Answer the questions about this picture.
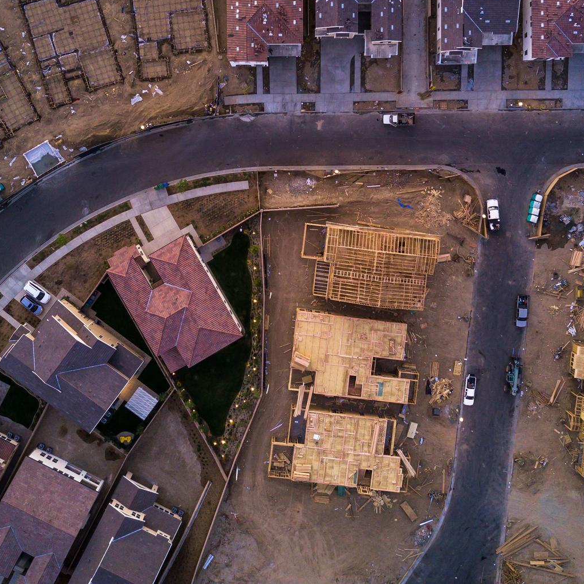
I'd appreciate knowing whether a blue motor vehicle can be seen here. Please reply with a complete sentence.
Yes, the photo shows a blue motor vehicle.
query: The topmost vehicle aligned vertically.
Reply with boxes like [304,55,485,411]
[487,198,502,232]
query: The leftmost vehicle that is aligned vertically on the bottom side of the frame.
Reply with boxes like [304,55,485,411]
[463,373,479,408]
